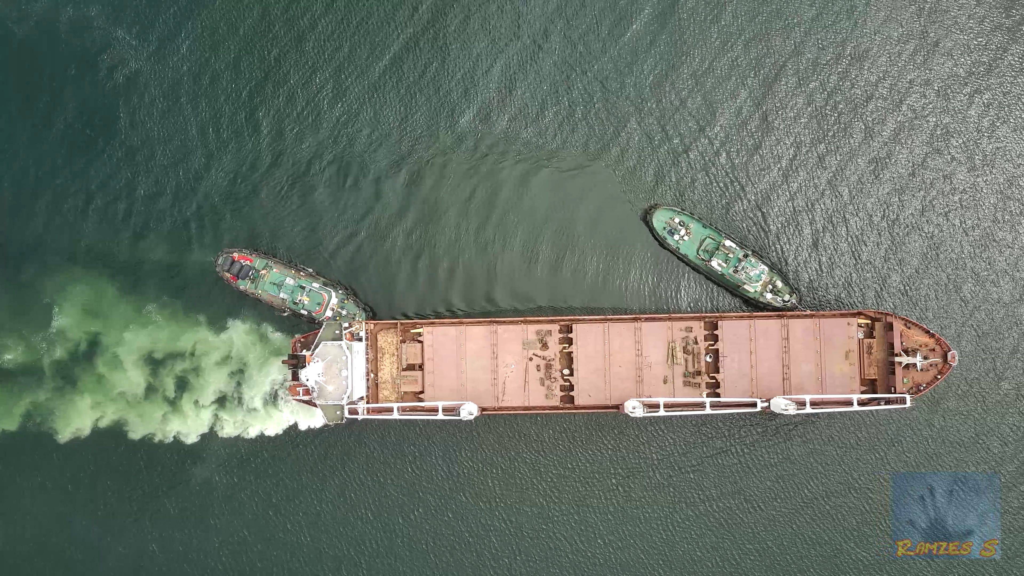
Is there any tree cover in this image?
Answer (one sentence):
No, no tree cover is visible.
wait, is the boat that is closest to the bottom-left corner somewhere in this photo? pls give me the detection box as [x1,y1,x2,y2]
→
[287,384,305,397]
